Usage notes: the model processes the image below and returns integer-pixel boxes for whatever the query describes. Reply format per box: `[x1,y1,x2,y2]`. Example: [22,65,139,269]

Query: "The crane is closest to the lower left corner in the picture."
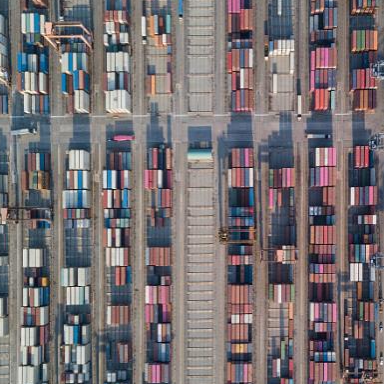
[0,205,53,224]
